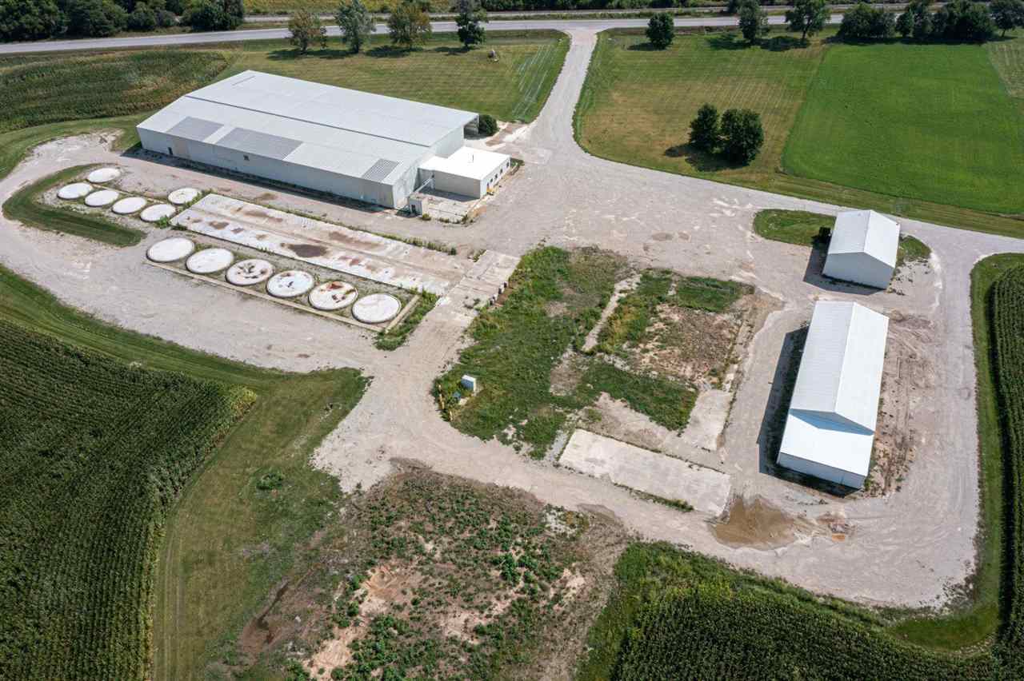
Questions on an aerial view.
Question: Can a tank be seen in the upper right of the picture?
No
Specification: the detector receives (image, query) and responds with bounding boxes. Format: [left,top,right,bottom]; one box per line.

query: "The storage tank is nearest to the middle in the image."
[352,294,401,326]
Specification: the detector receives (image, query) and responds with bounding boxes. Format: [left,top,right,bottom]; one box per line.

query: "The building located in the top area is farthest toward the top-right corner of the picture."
[822,209,900,289]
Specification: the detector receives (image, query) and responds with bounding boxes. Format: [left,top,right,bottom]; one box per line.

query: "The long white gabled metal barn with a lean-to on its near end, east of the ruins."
[776,300,889,489]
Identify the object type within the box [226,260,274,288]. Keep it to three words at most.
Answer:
storage tank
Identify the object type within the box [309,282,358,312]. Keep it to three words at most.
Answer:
storage tank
